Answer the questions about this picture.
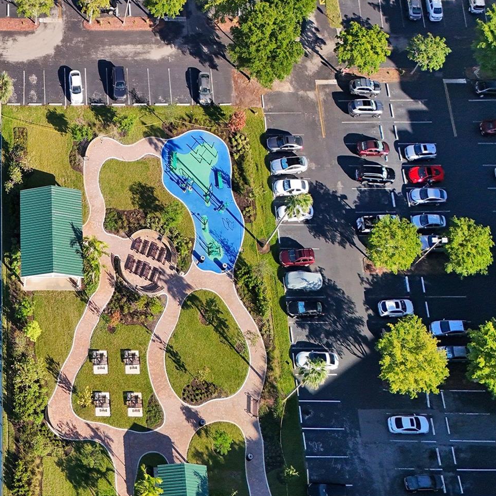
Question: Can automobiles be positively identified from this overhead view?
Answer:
Yes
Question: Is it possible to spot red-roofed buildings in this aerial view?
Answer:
No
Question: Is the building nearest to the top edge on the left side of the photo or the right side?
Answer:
left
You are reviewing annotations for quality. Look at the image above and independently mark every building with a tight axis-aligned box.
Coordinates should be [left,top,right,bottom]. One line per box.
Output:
[153,463,209,496]
[20,185,84,290]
